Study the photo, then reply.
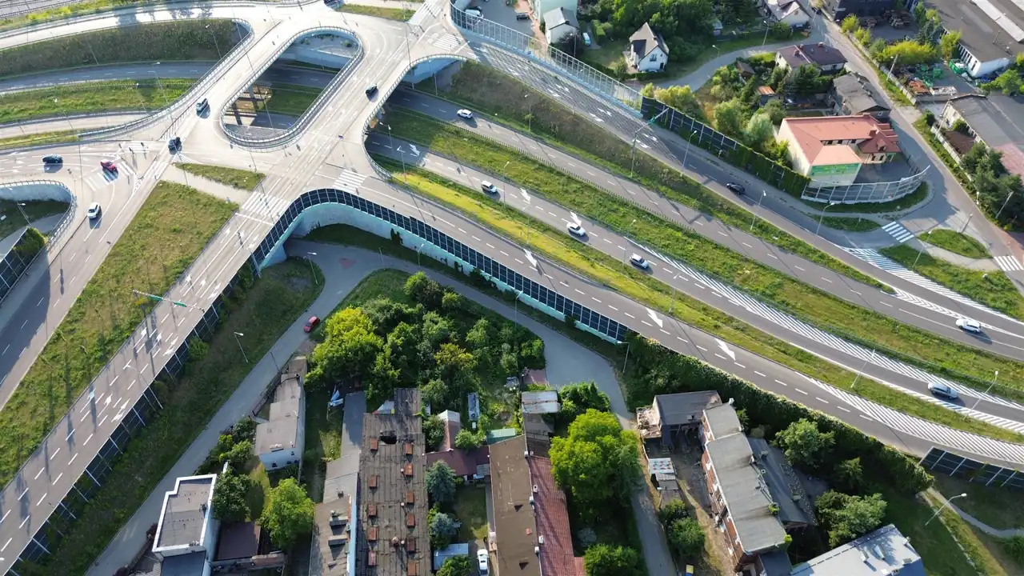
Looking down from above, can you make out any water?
No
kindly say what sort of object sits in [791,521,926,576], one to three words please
building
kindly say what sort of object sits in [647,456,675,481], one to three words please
shed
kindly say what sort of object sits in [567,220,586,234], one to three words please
car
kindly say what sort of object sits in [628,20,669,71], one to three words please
house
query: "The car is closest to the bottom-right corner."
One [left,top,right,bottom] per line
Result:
[930,381,958,398]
